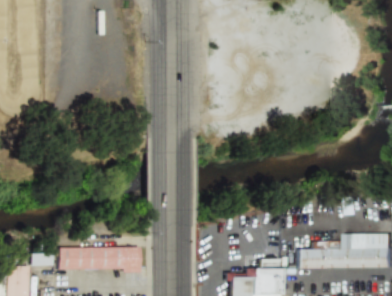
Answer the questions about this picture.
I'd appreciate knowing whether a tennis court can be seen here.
No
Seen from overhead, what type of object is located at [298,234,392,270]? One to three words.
building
